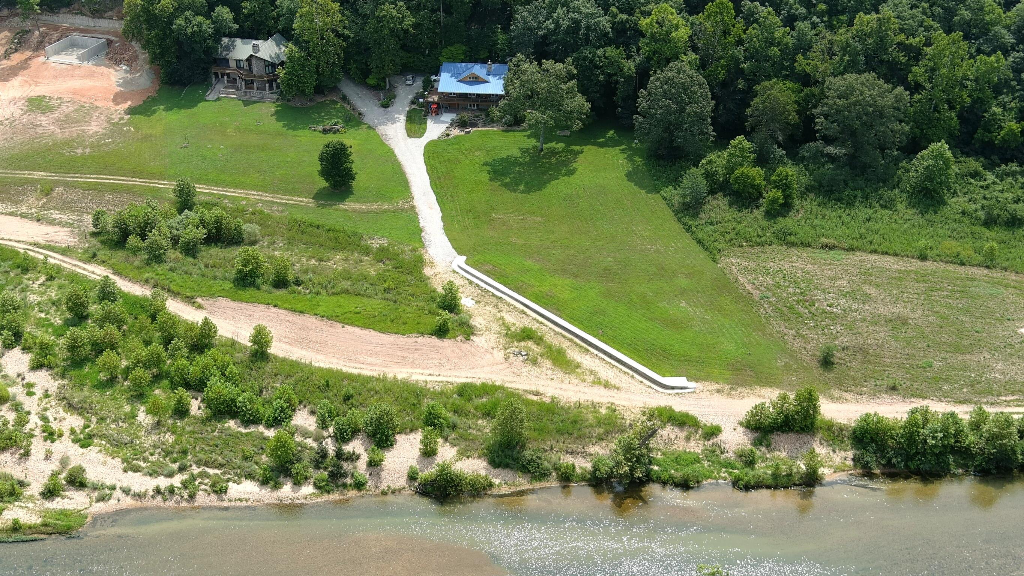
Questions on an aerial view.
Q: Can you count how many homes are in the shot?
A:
two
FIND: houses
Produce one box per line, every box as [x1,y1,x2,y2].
[424,57,507,123]
[200,26,296,98]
